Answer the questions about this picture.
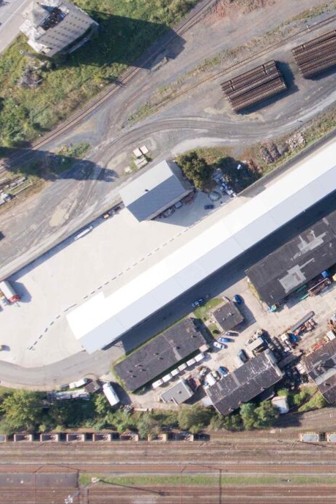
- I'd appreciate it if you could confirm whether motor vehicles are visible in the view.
Yes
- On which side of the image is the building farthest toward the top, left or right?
left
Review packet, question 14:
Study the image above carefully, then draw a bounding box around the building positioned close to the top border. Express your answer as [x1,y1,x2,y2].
[20,0,100,59]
